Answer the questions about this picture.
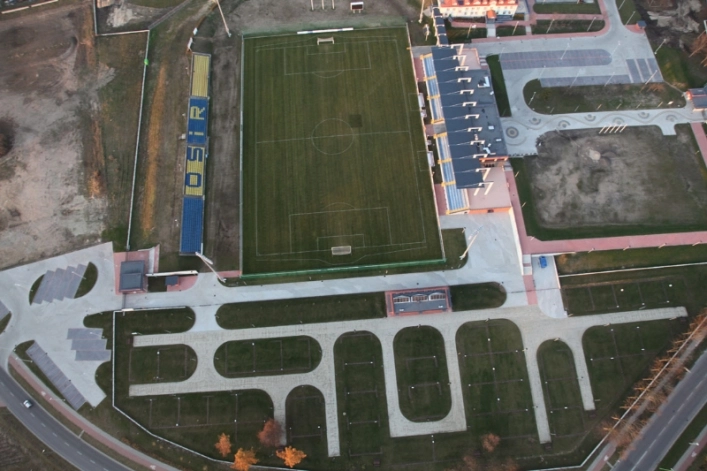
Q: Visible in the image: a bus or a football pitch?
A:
football pitch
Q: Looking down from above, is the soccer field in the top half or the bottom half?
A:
top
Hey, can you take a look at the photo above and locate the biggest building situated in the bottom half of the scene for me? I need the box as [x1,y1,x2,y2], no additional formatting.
[389,287,452,317]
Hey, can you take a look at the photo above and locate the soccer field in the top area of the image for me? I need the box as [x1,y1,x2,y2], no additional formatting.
[240,25,445,275]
